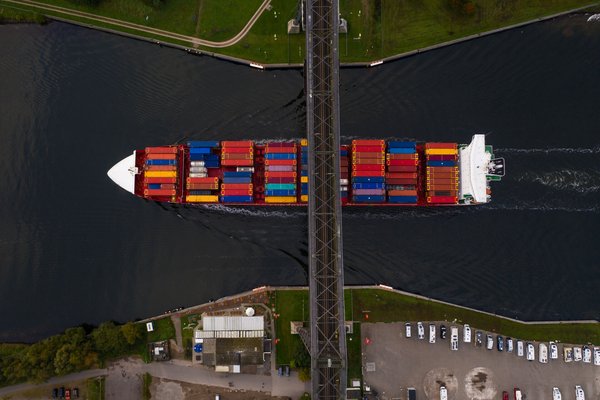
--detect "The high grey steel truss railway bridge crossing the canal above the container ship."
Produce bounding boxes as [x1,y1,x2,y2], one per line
[288,0,355,400]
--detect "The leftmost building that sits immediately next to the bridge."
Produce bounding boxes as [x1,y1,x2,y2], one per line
[196,314,272,374]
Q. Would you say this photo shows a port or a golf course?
port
